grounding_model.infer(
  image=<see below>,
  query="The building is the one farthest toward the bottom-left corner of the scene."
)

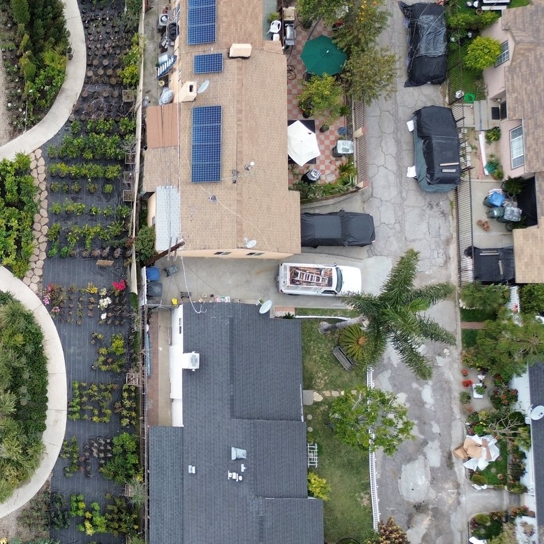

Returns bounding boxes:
[148,303,324,544]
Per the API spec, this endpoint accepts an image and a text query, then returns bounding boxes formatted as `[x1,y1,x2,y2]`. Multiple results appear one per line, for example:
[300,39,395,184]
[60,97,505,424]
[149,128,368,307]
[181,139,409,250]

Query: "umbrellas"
[289,126,320,162]
[299,35,345,79]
